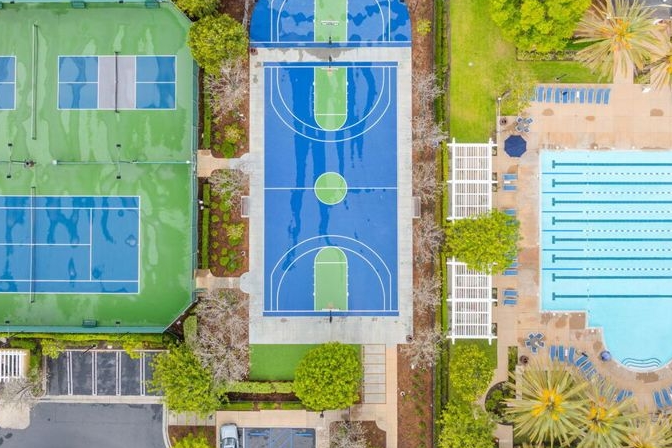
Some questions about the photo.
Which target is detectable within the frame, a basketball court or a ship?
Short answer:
basketball court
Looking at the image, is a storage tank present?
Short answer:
No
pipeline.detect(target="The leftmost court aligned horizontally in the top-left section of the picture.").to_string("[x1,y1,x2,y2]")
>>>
[58,56,176,109]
